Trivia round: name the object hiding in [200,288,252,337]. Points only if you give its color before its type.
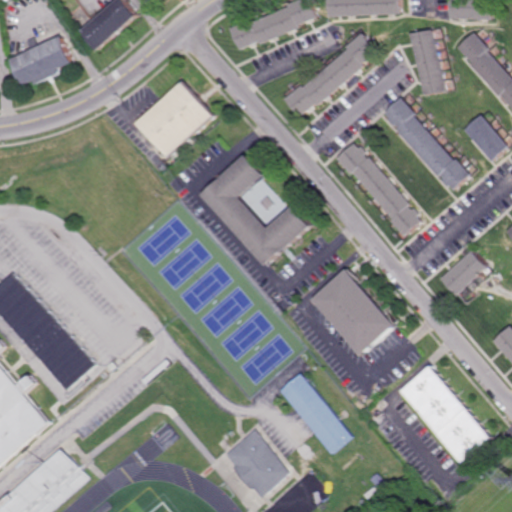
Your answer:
blue tennis court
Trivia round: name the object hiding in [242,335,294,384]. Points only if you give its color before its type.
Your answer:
blue tennis court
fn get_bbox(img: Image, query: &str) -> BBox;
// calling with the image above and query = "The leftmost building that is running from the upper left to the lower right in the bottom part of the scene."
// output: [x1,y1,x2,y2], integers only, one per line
[0,274,94,388]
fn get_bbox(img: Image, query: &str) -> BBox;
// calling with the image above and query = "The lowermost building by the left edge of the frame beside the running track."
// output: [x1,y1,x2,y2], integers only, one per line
[0,448,92,512]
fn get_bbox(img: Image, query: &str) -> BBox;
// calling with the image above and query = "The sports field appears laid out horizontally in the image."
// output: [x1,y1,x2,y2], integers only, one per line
[90,482,214,512]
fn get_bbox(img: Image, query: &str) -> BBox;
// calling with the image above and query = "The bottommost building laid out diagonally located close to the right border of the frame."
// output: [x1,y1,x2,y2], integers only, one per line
[398,366,490,464]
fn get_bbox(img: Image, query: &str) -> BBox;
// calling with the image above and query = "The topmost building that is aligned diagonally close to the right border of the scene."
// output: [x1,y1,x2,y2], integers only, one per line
[458,33,512,115]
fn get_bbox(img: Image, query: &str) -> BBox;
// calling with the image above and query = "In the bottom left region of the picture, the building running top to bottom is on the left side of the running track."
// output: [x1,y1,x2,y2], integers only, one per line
[0,340,52,468]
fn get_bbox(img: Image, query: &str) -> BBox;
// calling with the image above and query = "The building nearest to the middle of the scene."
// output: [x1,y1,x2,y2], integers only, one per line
[199,156,306,263]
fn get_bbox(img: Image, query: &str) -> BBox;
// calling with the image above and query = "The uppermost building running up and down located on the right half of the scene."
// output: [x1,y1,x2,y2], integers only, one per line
[409,29,446,96]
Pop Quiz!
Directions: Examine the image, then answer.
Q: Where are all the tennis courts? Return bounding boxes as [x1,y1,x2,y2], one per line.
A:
[180,264,232,313]
[242,335,294,384]
[139,216,190,265]
[221,312,273,360]
[200,288,252,337]
[160,240,212,289]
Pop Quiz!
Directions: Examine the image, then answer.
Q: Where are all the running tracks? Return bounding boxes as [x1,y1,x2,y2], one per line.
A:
[58,424,239,512]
